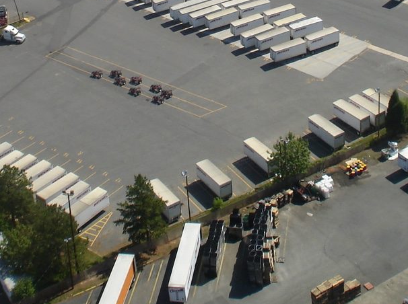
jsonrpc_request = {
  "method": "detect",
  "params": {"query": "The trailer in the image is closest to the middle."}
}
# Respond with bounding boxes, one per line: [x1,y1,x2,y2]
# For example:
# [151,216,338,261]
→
[197,159,233,201]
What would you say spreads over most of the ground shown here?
paved ground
